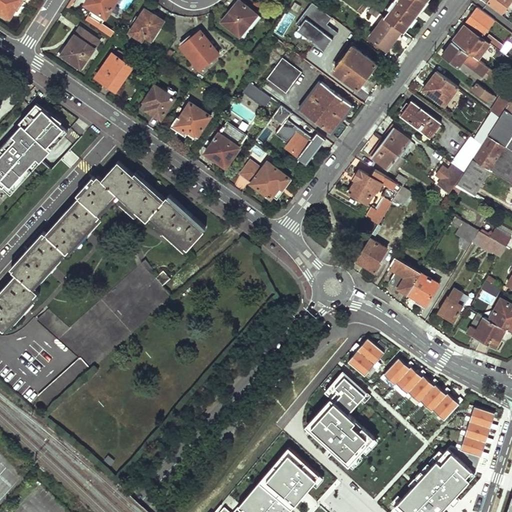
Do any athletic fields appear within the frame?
Yes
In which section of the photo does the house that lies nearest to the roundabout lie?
right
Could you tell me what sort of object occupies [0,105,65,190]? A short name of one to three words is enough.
building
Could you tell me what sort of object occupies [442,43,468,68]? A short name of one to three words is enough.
house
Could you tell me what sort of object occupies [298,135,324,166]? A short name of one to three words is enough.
shed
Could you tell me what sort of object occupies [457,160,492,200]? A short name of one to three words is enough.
building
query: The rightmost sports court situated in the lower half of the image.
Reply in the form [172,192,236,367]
[38,256,169,368]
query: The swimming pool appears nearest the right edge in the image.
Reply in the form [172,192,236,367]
[476,288,500,307]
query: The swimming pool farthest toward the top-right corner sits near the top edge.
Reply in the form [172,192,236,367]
[276,12,296,37]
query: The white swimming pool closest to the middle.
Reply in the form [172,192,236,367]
[251,144,268,161]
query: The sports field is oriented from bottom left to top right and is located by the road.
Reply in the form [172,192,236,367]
[50,236,280,474]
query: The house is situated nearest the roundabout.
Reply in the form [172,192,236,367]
[355,238,390,275]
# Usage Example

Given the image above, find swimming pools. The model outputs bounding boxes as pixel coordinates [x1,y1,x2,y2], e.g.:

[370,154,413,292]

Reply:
[232,102,256,124]
[476,288,500,307]
[258,128,272,142]
[251,144,268,161]
[118,0,132,10]
[276,12,296,37]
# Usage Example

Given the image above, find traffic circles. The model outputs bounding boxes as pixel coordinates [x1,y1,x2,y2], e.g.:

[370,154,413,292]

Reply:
[311,266,354,308]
